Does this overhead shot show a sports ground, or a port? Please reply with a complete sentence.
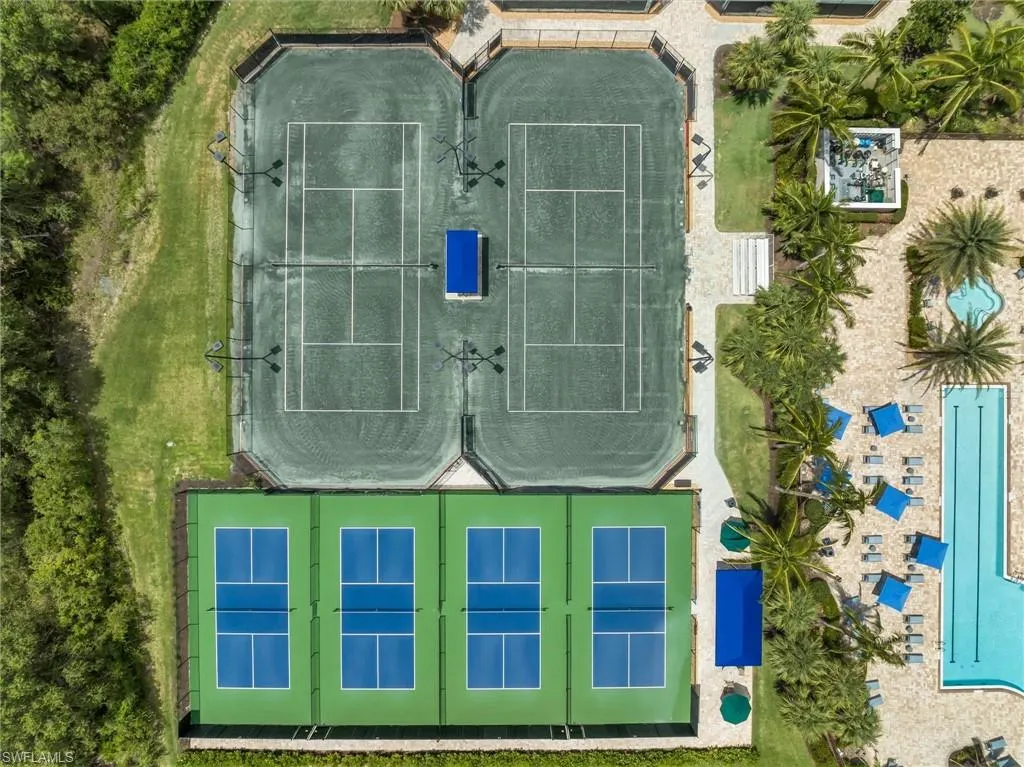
This image shows a sports ground.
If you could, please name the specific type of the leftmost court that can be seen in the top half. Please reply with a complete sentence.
Specifically, the leftmost court that can be seen in the top half is a tennis court.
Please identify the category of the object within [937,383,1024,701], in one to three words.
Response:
swimming pool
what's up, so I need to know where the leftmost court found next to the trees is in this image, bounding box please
[187,492,313,725]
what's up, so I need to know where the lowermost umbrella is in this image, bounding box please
[720,692,751,725]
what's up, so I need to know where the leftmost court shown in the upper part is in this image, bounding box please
[231,47,464,489]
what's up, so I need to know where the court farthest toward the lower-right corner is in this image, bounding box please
[567,492,691,725]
